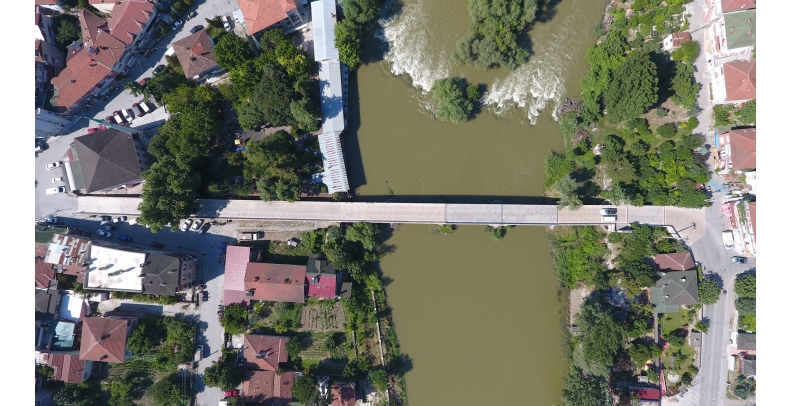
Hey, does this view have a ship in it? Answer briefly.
No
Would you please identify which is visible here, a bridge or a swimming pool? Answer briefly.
bridge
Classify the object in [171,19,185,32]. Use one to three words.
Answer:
vehicle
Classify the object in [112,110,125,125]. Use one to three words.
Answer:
vehicle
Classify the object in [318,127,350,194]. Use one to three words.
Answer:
building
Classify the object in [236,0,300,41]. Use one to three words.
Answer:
house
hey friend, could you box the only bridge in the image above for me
[77,196,667,228]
